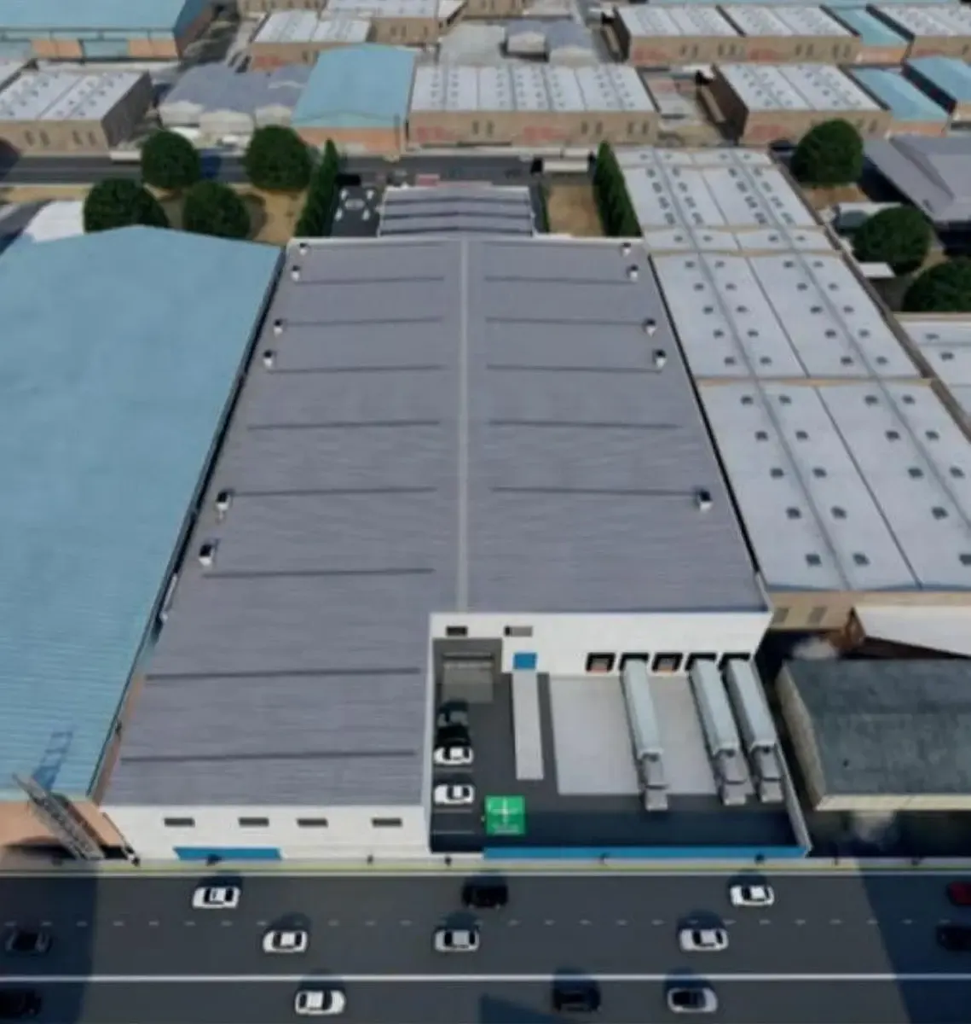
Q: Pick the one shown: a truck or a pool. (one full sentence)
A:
The one in the frame is a truck.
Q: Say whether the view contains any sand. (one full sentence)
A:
No, sand can't be seen anywhere here.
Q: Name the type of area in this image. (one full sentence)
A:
It's an industrial area.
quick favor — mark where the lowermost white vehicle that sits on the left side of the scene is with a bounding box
[295,987,345,1015]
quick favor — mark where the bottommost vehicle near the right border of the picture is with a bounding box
[934,923,971,950]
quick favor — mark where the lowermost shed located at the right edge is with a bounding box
[772,653,971,810]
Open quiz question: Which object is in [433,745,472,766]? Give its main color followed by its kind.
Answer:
white car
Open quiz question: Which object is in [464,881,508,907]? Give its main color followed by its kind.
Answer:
black car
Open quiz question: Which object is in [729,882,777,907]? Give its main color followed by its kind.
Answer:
white car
